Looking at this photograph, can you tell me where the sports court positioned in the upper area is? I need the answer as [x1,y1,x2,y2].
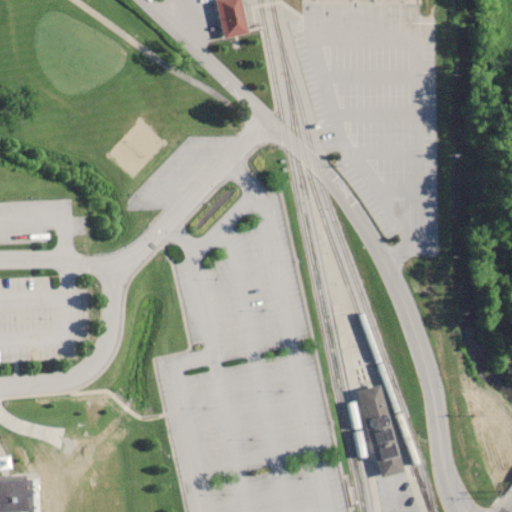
[106,117,168,178]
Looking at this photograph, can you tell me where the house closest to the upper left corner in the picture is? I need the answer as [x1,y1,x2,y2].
[213,0,248,38]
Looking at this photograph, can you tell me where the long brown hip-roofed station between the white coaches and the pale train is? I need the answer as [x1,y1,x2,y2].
[311,192,426,512]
